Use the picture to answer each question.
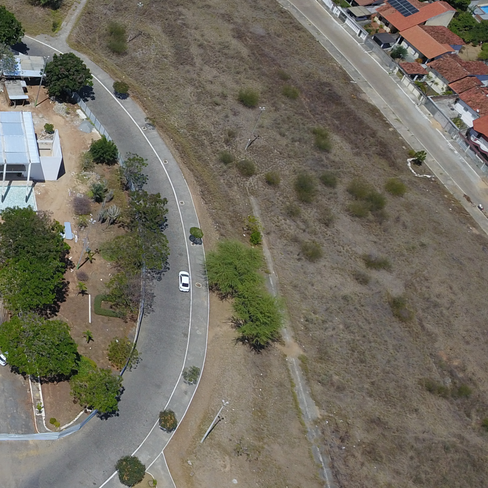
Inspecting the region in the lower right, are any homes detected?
No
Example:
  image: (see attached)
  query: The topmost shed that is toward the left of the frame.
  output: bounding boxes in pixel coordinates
[1,55,46,85]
